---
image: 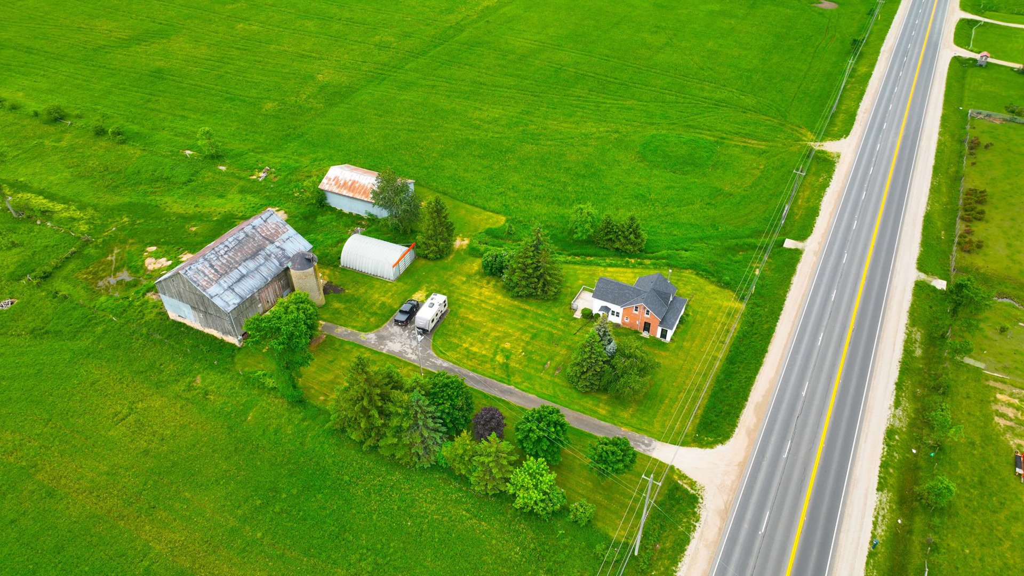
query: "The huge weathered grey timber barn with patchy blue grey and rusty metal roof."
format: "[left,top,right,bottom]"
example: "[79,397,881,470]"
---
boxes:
[153,211,313,347]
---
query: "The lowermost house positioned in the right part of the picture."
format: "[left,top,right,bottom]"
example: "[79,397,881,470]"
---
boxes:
[573,269,688,342]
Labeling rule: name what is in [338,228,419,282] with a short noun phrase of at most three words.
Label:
shed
